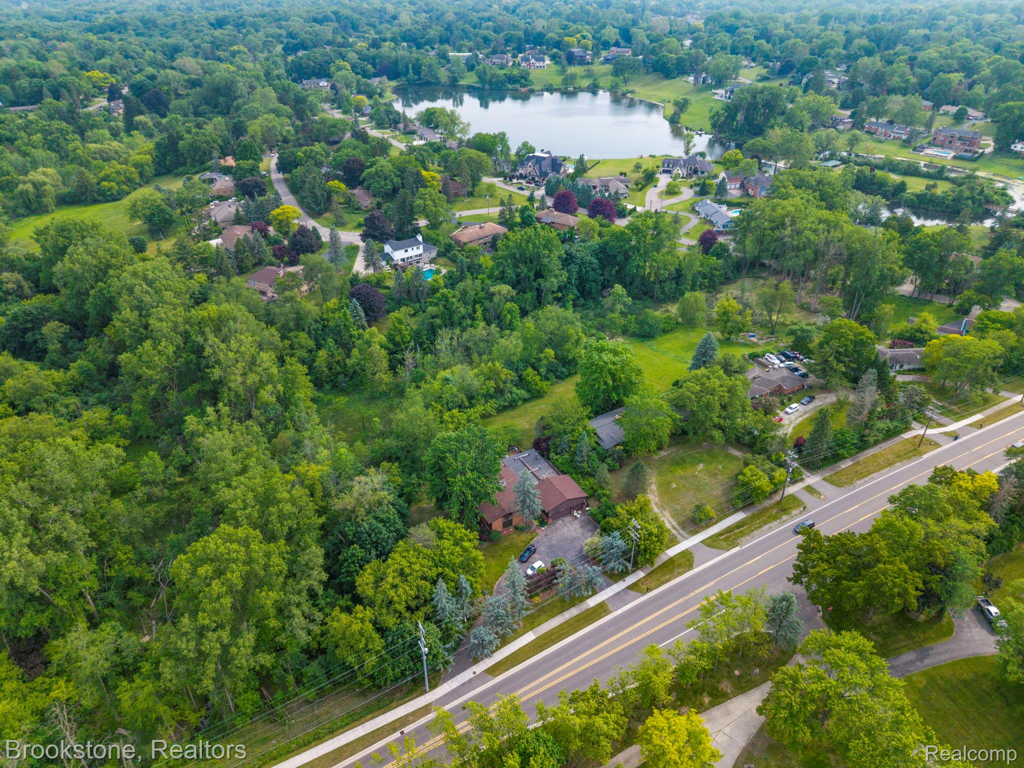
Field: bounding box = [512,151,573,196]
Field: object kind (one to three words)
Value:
house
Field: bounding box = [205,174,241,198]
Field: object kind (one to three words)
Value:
house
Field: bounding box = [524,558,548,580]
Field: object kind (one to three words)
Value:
car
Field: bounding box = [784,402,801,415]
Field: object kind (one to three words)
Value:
vehicle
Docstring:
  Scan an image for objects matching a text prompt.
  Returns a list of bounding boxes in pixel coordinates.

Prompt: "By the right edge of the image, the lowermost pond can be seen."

[855,201,1024,228]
